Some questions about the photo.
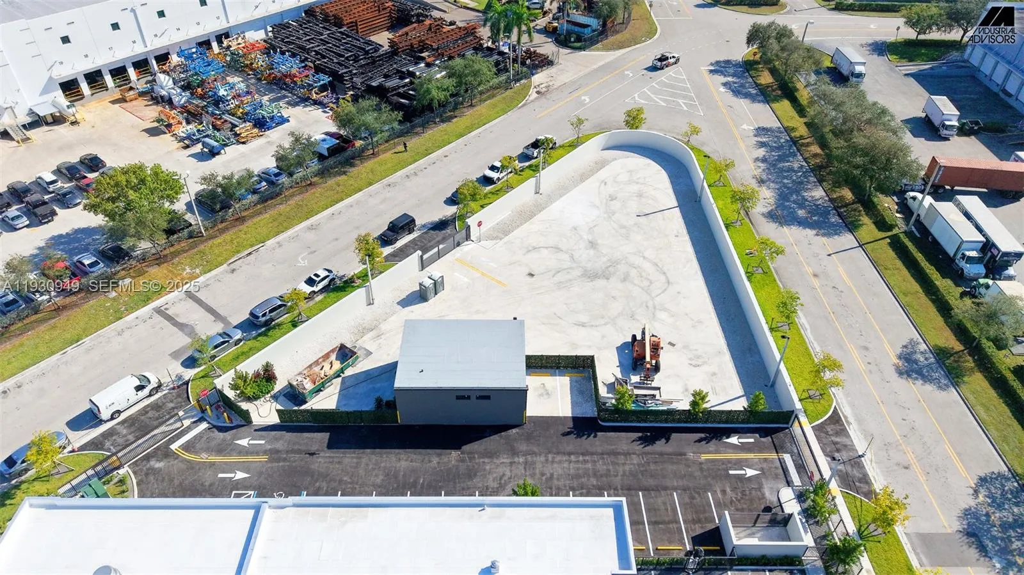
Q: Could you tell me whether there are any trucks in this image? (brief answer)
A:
Yes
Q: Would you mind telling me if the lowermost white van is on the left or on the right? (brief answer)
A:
left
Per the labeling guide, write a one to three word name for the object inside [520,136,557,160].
truck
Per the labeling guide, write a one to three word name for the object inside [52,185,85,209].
car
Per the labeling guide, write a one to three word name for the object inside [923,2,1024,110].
building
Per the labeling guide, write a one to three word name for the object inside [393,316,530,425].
building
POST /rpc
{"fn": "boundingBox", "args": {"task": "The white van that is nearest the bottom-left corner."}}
[84,371,162,426]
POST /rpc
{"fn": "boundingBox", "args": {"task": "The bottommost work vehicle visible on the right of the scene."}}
[630,324,665,391]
